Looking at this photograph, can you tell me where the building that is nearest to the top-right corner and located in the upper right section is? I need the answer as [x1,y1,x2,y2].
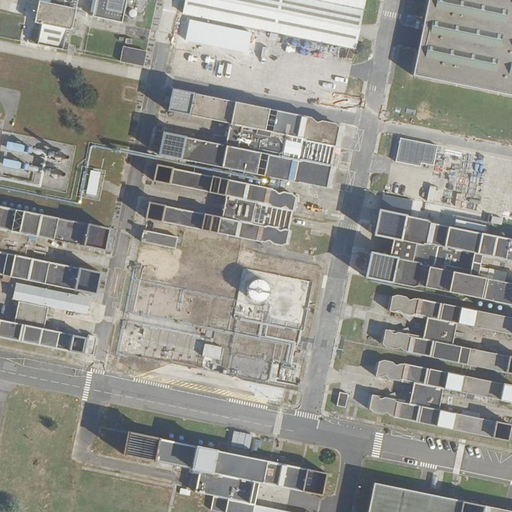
[412,0,512,98]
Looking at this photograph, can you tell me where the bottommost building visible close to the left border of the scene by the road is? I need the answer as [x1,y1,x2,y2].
[0,321,96,354]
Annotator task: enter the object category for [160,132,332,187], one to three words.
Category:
building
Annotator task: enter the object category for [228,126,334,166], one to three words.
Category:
building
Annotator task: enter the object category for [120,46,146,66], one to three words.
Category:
shed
